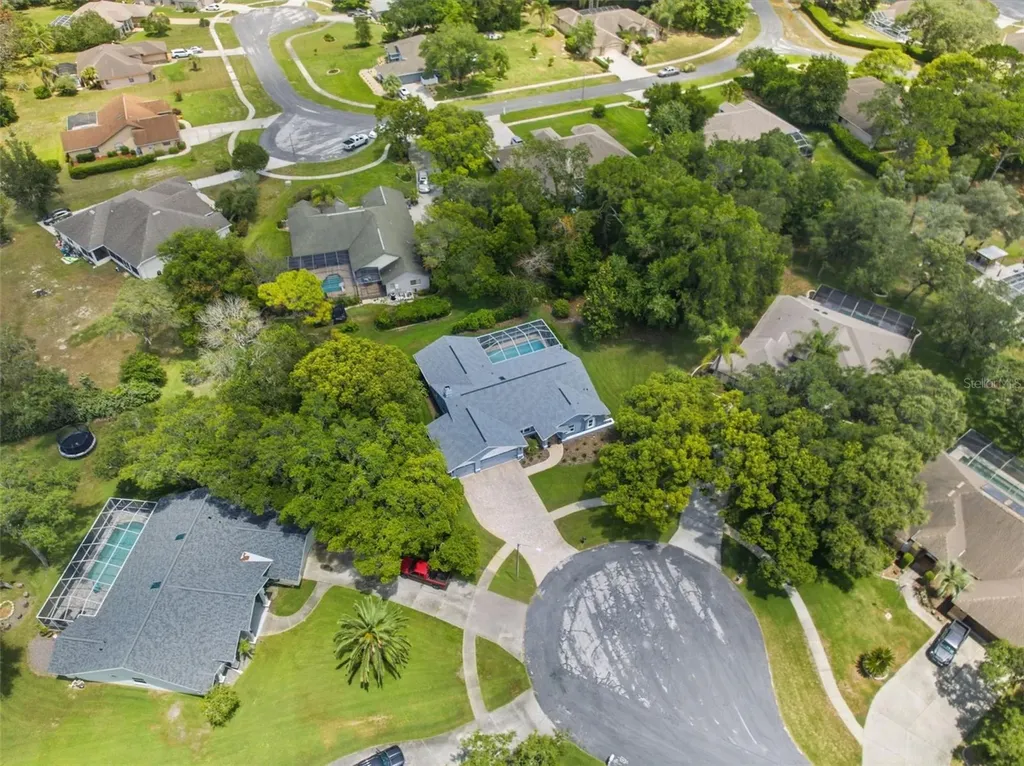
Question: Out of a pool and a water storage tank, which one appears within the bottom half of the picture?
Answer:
pool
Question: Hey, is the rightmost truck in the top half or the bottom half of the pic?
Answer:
bottom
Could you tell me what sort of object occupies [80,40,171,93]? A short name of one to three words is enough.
house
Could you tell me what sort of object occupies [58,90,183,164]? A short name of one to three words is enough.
house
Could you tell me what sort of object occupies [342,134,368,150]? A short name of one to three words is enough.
vehicle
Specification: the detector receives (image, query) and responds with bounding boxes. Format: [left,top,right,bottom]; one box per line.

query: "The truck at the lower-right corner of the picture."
[925,619,972,667]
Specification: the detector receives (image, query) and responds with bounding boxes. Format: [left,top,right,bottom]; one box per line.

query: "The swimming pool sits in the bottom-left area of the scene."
[49,511,147,632]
